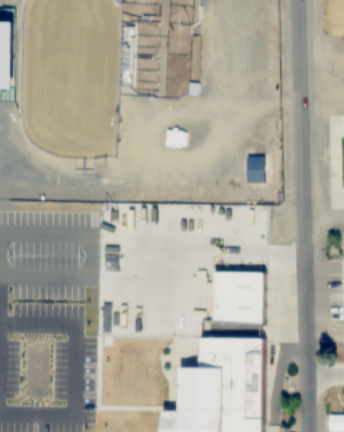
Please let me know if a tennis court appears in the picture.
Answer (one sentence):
No, there is no tennis court in the image.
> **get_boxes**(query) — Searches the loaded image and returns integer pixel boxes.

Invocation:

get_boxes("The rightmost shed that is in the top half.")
[248,157,266,182]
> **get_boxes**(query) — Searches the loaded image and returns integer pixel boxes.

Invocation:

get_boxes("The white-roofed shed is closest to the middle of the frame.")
[166,129,190,148]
